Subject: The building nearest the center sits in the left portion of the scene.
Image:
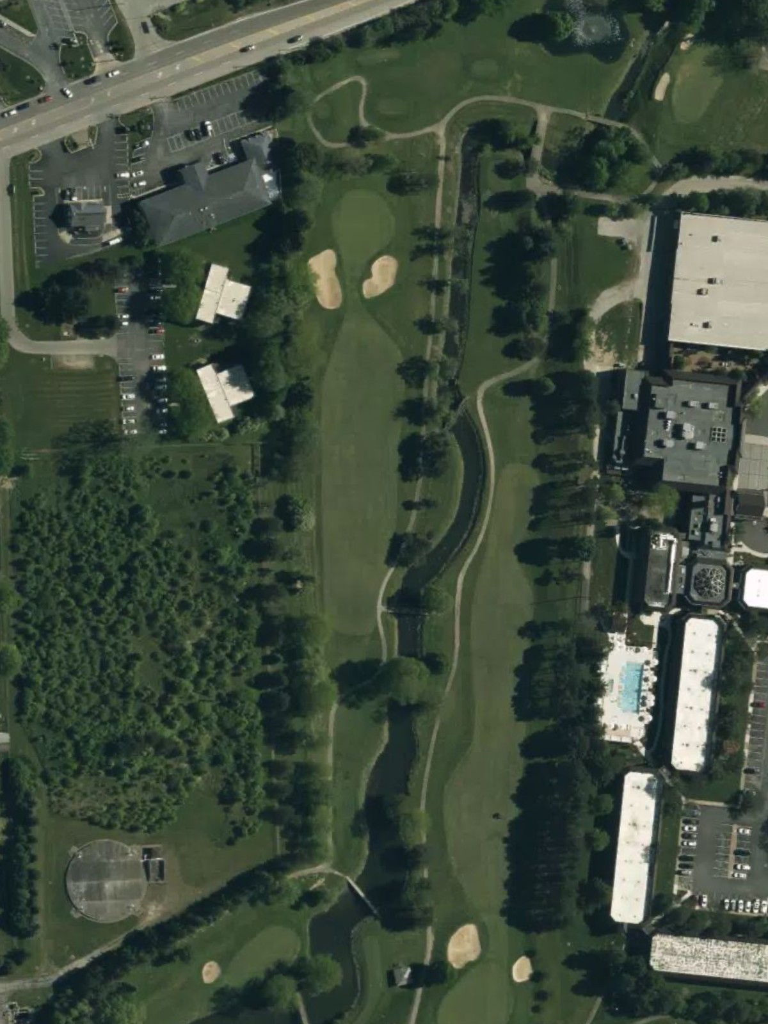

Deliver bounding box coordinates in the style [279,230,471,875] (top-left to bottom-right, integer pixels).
[196,364,253,423]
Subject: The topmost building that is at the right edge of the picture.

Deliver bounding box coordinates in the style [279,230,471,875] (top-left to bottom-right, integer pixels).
[667,213,768,351]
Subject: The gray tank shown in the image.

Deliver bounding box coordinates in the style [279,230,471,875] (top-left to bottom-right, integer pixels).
[65,840,147,921]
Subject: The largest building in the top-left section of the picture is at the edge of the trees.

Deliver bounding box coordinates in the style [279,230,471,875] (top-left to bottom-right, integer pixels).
[141,133,276,247]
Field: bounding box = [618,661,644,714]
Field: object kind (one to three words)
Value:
swimming pool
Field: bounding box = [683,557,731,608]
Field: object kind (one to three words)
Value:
building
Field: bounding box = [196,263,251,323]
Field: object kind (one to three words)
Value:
building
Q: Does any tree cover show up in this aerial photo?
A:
Yes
